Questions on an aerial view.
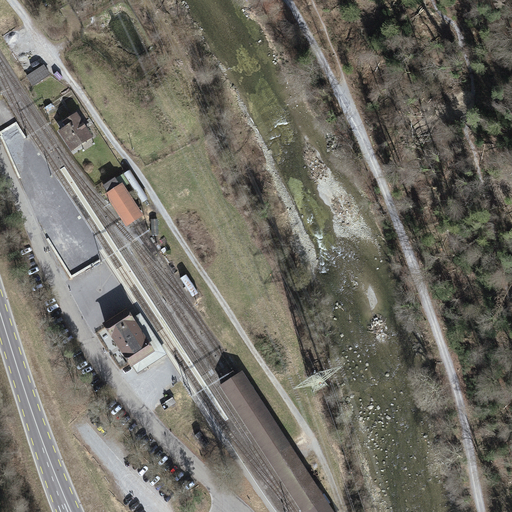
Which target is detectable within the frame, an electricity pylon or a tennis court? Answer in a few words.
electricity pylon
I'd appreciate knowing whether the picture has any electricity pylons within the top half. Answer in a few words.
No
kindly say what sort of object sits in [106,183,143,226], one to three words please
shed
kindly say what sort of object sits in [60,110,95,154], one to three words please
house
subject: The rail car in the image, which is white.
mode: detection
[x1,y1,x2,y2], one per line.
[181,274,198,296]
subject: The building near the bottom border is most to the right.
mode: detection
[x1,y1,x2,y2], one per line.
[220,370,337,512]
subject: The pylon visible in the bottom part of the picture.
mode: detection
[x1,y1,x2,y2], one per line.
[296,366,345,391]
